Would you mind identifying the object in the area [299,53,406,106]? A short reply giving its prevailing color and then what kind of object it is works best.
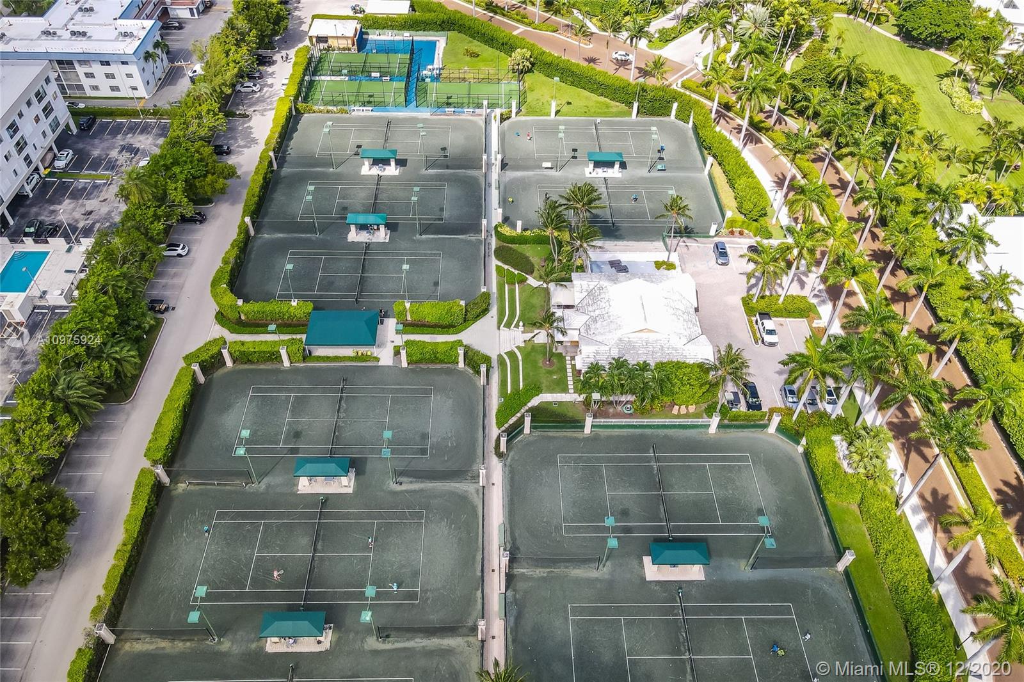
green sports court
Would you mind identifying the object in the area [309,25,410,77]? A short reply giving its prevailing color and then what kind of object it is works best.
green sports court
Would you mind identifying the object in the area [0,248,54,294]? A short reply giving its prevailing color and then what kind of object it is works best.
blue swimming pool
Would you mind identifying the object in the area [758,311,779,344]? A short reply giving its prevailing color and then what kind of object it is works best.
white truck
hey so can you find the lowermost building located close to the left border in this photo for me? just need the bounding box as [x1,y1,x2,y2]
[0,293,34,323]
